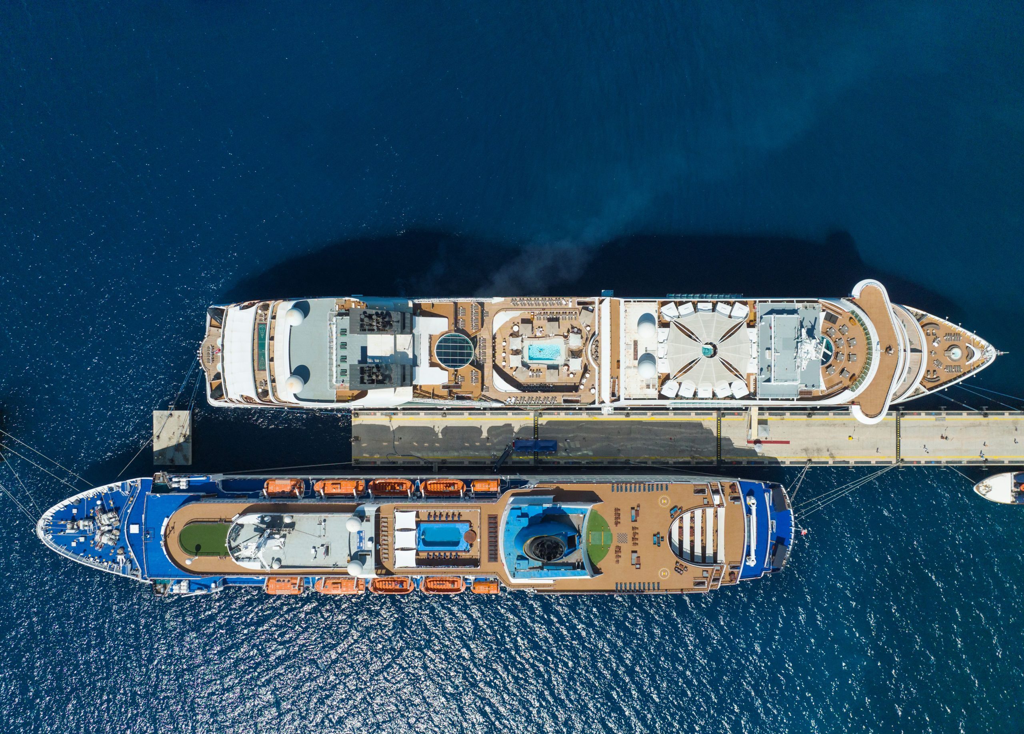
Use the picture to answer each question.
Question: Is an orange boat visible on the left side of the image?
Yes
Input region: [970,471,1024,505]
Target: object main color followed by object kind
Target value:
white boat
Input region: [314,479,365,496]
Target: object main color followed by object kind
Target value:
orange boat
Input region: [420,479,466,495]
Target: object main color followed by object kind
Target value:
orange boat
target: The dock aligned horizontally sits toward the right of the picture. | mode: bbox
[352,406,1024,470]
